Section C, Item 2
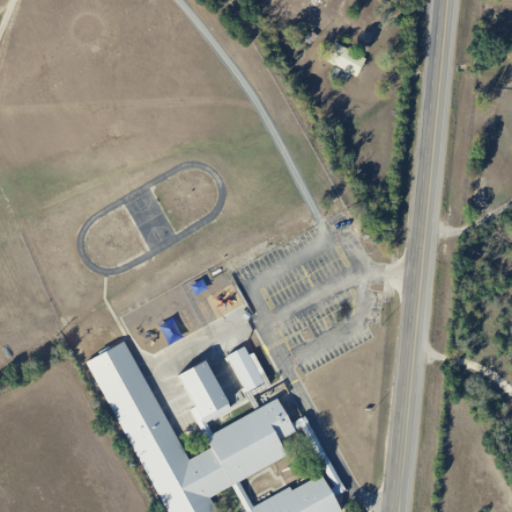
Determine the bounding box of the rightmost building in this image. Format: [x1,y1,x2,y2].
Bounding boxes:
[329,44,366,76]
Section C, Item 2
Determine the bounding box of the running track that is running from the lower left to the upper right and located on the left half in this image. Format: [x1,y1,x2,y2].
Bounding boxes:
[78,162,226,274]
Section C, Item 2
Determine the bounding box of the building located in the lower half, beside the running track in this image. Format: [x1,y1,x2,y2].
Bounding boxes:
[87,342,342,512]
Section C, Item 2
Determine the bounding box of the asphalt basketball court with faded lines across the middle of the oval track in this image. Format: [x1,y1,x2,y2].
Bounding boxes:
[126,189,176,250]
